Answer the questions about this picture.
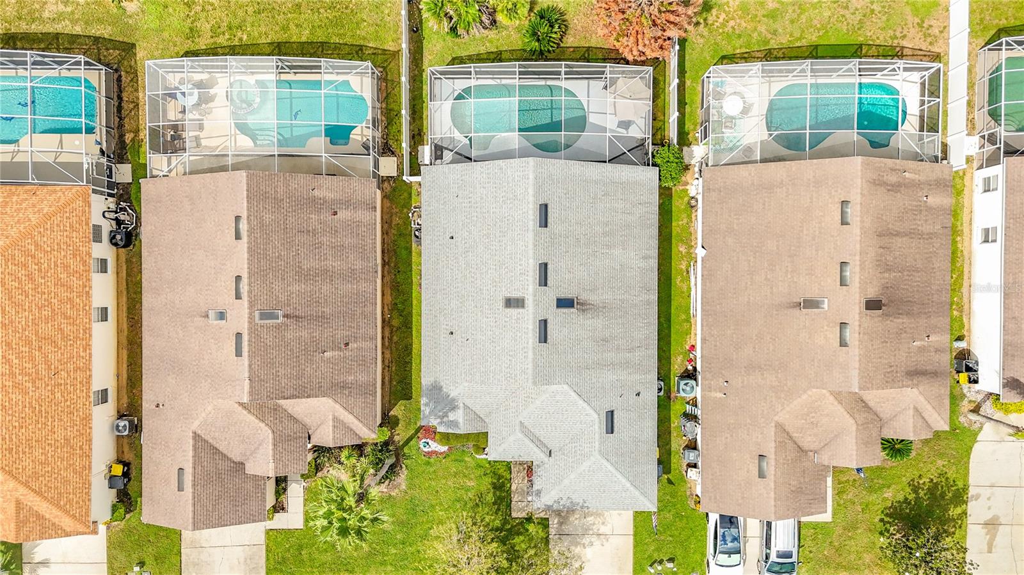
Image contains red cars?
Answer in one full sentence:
No, I can't see a single red car in this photo.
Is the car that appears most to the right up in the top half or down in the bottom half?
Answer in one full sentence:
The car that appears most to the right is in the bottom half of the image.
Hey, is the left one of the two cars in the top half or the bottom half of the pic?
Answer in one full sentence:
The left one of the two cars sits in the bottom half of the picture.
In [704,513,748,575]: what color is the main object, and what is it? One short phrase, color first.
white car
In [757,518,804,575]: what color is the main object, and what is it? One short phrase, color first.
white car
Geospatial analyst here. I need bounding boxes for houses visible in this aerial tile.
[140,170,381,531]
[420,158,659,512]
[694,159,953,521]
[970,156,1024,403]
[0,185,117,541]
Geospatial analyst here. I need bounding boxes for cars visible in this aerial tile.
[757,518,804,575]
[704,513,748,575]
